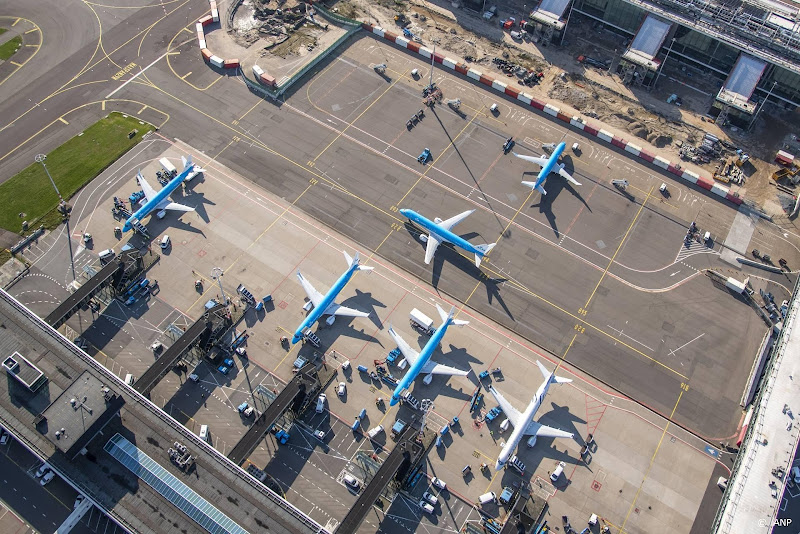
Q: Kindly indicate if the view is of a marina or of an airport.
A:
airport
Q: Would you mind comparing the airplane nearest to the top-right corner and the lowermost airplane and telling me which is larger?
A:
the lowermost airplane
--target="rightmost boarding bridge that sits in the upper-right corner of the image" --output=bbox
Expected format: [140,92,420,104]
[711,52,769,130]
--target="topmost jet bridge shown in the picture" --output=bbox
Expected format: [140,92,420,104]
[530,0,574,44]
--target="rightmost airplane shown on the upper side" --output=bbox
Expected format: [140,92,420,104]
[512,142,583,197]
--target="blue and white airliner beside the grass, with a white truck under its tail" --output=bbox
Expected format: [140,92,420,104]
[123,152,208,230]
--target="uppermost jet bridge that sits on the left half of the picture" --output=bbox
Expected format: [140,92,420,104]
[45,249,140,331]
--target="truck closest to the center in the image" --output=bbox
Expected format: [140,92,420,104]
[408,309,438,335]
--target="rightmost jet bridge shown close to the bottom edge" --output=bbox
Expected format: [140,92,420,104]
[495,493,537,534]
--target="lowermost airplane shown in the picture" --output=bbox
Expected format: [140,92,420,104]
[488,361,576,469]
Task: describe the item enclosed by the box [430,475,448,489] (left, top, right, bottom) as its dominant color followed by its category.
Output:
white vehicle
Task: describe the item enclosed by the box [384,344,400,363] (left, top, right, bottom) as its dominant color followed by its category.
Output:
blue vehicle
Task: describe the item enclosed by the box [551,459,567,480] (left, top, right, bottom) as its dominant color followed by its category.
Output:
white vehicle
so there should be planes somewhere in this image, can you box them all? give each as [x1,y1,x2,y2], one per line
[294,250,375,341]
[401,208,498,268]
[512,142,583,197]
[488,361,576,469]
[389,304,470,403]
[123,152,208,230]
